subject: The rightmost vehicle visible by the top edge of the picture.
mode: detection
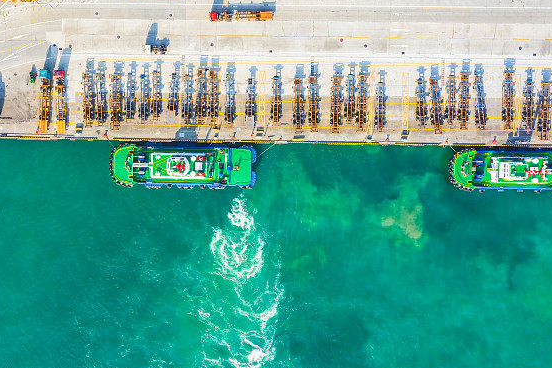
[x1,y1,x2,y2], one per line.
[210,9,275,22]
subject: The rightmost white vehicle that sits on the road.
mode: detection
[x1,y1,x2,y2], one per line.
[144,42,167,55]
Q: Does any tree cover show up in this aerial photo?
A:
No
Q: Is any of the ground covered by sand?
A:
No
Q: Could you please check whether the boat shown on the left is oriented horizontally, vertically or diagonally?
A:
horizontally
